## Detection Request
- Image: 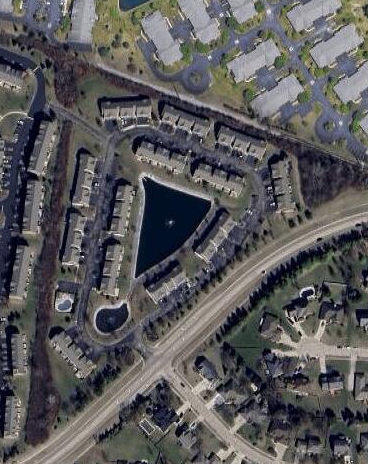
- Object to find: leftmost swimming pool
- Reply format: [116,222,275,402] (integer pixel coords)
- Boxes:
[57,295,73,311]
